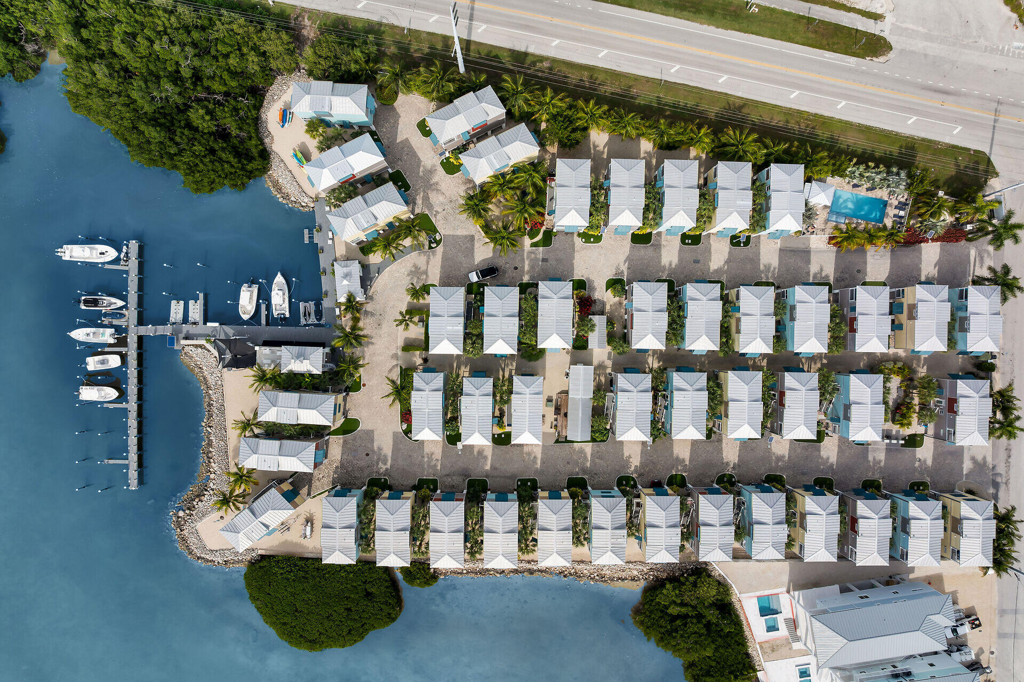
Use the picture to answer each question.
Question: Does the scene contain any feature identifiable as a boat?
Yes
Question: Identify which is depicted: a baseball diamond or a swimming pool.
swimming pool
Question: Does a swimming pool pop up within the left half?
No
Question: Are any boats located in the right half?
No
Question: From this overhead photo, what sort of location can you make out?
residential area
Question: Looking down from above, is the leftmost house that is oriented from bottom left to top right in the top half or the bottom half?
bottom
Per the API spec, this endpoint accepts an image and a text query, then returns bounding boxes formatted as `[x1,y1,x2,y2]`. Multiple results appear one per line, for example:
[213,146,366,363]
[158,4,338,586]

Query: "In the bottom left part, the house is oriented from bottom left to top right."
[220,478,308,553]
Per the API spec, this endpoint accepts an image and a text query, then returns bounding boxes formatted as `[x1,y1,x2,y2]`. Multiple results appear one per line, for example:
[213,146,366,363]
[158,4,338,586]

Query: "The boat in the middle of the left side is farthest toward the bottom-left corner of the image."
[77,386,122,401]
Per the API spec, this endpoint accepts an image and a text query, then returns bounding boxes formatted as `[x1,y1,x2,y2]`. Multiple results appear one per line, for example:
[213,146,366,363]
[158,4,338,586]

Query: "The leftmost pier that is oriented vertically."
[128,241,143,489]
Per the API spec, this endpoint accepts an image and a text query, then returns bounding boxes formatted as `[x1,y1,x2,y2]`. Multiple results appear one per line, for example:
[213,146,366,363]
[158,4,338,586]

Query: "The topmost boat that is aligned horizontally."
[60,246,120,263]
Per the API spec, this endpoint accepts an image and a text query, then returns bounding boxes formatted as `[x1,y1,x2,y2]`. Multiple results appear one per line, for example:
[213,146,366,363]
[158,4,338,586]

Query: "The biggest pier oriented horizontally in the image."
[174,326,342,349]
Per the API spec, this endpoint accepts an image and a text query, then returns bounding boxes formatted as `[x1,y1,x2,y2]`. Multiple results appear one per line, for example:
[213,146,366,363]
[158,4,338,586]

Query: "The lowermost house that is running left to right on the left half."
[237,433,328,473]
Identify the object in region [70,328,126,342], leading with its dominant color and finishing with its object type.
white boat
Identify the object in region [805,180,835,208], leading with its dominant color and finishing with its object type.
white gazebo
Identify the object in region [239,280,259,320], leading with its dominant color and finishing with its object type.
white boat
